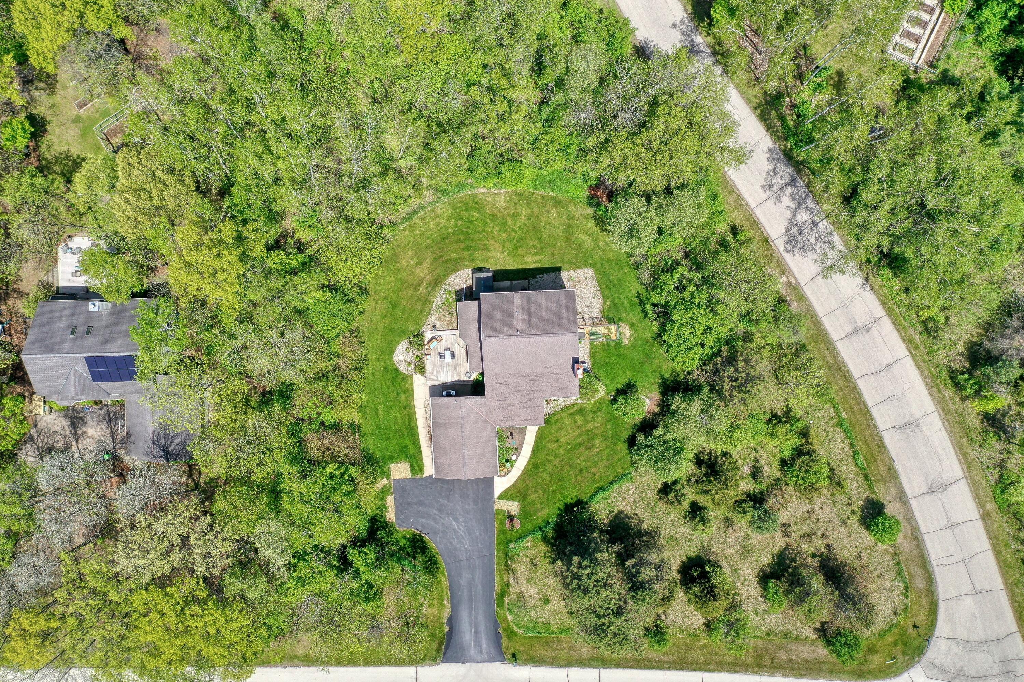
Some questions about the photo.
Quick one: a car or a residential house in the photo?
residential house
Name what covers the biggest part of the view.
trees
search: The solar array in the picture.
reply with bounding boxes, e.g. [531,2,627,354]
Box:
[85,356,154,382]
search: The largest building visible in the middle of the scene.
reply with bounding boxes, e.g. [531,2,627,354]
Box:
[429,288,584,481]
